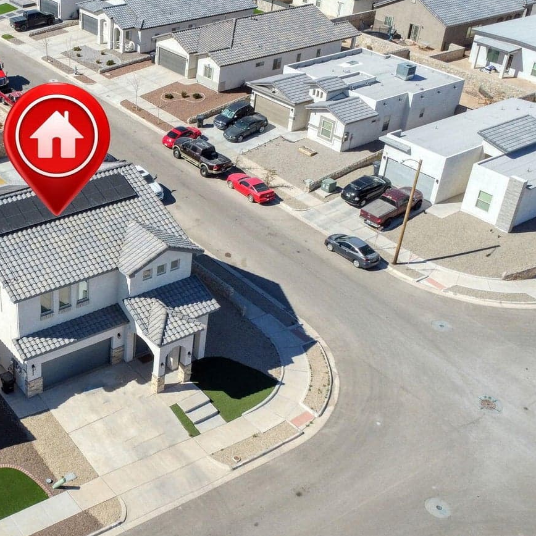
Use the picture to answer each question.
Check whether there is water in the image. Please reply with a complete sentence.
No, water can't be seen anywhere here.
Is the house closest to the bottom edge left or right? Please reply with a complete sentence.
The house closest to the bottom edge sits on the left side.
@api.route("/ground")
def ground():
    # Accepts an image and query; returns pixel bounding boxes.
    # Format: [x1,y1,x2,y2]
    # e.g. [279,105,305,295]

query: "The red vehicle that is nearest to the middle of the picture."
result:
[226,174,281,205]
